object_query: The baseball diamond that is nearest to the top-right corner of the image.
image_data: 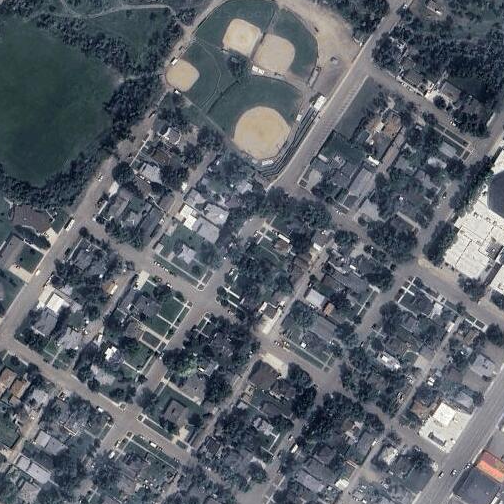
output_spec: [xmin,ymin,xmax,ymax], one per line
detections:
[254,8,317,79]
